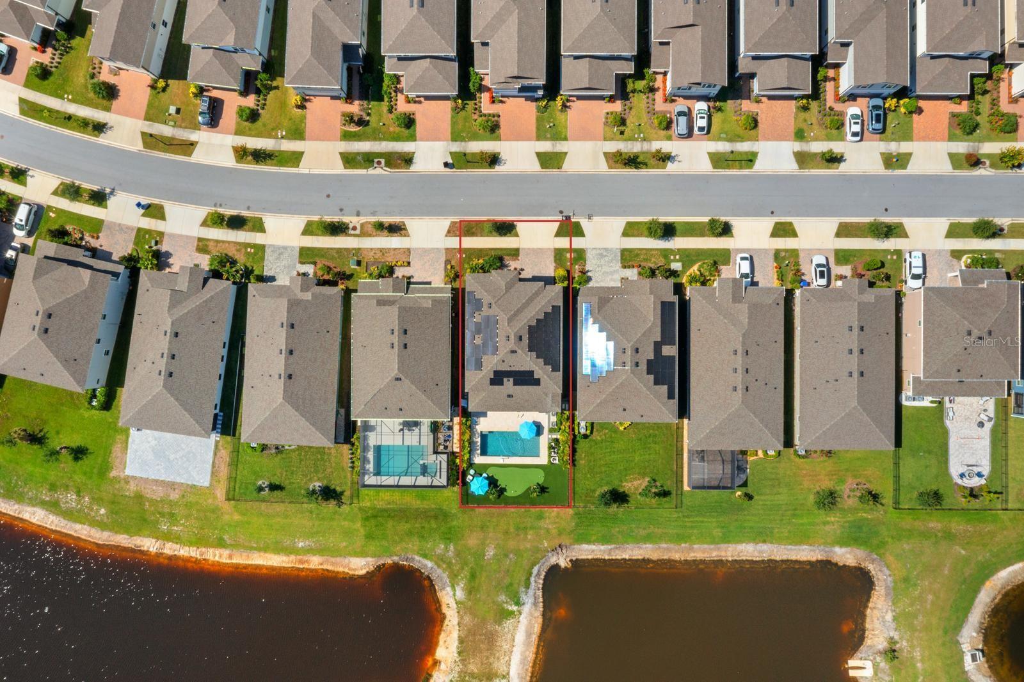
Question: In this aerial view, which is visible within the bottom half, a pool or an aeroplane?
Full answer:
The one visible within the bottom half is a pool.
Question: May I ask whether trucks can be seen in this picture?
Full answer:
No, no truck is visible in the scene.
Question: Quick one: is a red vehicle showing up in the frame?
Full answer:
No, the scene contains no red vehicle.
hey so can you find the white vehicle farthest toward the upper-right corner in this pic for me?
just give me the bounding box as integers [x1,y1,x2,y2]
[845,107,863,143]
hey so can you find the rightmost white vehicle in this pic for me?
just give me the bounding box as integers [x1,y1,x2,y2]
[905,251,925,289]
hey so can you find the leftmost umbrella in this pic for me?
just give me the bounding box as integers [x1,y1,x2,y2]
[470,475,489,494]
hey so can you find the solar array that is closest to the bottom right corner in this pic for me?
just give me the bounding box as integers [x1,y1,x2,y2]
[647,301,676,399]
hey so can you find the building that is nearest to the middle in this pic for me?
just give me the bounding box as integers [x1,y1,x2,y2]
[466,270,563,412]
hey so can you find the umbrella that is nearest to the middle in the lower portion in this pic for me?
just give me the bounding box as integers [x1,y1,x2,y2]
[519,420,537,438]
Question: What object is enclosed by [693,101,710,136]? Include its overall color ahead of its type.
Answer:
white car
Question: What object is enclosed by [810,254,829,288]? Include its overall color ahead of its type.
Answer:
white car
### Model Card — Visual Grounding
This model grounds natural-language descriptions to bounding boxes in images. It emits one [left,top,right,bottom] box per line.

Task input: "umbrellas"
[470,475,489,494]
[519,420,537,438]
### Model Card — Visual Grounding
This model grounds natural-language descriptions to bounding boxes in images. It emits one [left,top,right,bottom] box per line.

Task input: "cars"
[0,40,13,76]
[905,251,925,289]
[810,254,829,288]
[693,101,710,136]
[866,99,885,134]
[735,253,752,287]
[845,107,863,143]
[197,93,216,127]
[674,103,691,138]
[14,201,39,239]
